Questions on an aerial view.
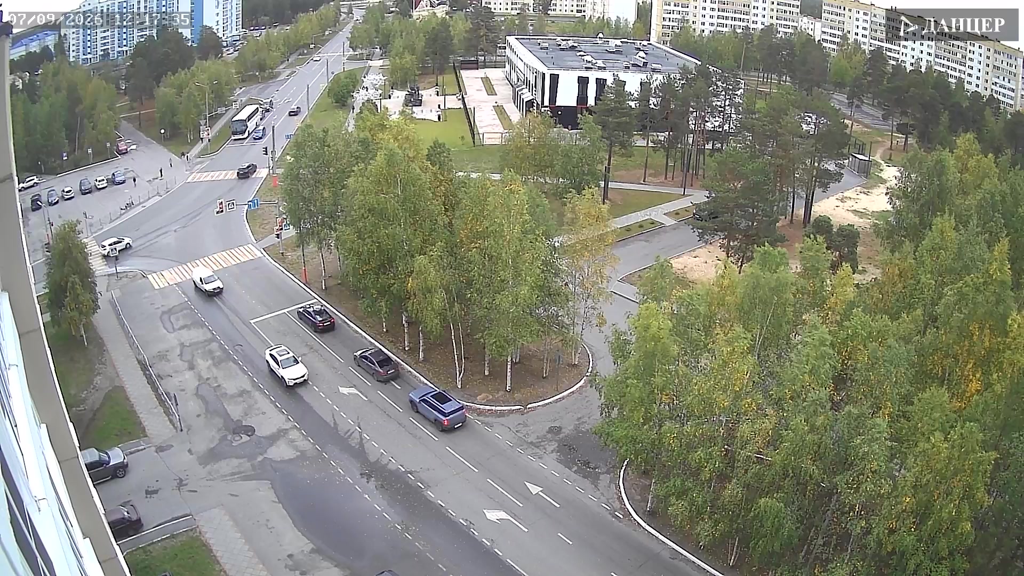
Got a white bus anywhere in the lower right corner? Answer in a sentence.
No, no white bus is visible in the lower right corner.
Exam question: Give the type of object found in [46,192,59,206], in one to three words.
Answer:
vehicle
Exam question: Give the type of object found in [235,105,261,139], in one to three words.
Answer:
bus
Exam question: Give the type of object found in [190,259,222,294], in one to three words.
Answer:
van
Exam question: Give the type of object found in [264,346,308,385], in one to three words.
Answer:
car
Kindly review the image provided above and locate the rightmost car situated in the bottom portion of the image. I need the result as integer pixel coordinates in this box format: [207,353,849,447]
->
[409,388,470,434]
